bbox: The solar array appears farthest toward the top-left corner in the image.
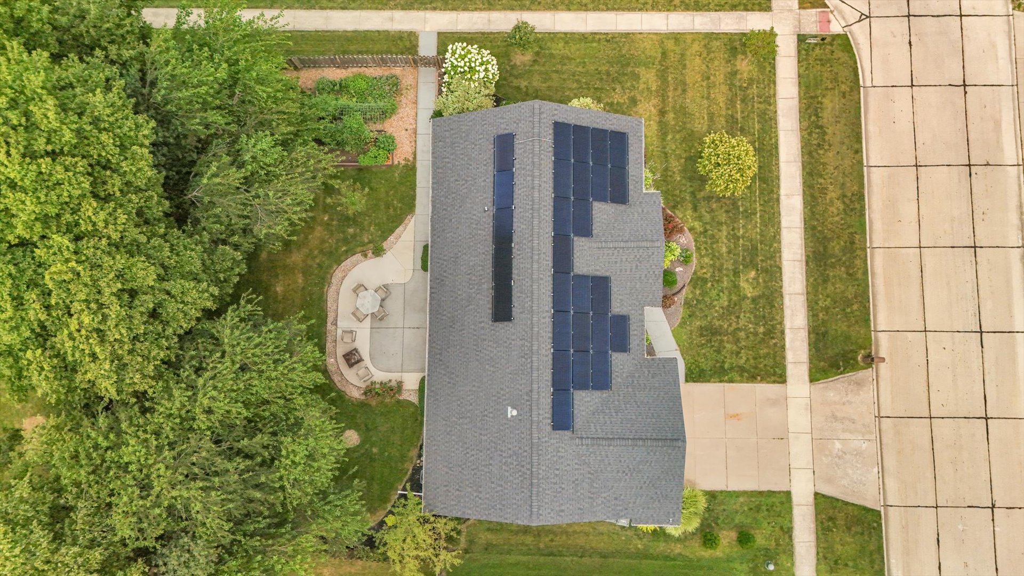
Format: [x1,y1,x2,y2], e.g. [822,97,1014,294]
[492,131,518,322]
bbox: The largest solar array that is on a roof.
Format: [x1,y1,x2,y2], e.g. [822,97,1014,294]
[550,123,630,430]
